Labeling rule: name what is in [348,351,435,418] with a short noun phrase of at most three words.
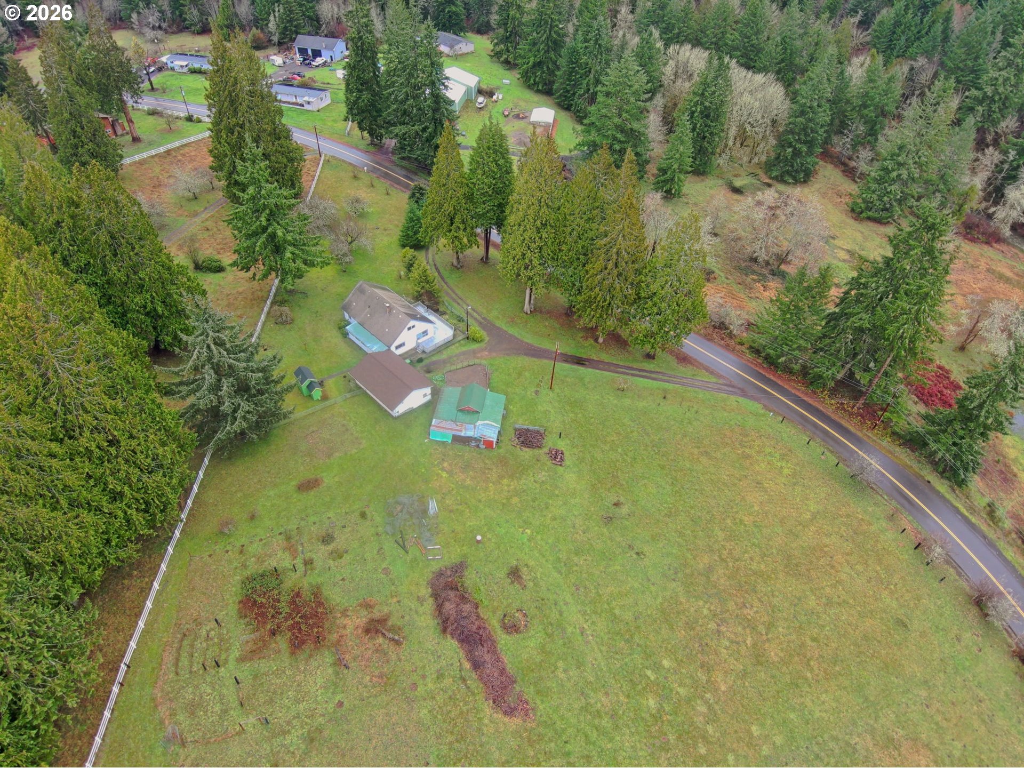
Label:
building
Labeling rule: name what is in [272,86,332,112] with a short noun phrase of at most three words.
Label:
house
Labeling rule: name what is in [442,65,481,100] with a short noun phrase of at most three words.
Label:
barn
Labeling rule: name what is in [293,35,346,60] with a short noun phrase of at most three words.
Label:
building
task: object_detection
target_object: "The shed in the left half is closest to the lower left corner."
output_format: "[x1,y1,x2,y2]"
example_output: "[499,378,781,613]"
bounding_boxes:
[293,367,322,404]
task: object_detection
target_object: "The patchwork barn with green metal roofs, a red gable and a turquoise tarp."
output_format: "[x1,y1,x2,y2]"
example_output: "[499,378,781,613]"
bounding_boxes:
[427,375,511,452]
